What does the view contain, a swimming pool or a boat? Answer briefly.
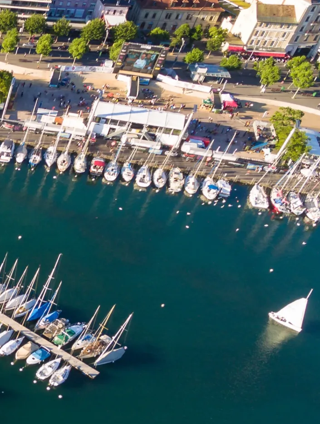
boat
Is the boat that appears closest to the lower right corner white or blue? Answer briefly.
white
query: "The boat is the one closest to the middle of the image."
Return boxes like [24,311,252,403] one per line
[168,174,184,197]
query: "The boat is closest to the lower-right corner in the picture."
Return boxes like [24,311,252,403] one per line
[267,297,304,331]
